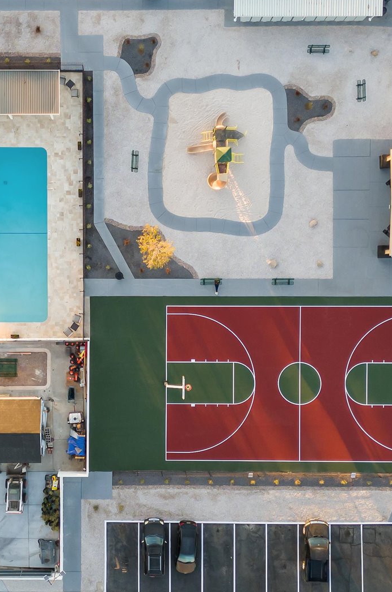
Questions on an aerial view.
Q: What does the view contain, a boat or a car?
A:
car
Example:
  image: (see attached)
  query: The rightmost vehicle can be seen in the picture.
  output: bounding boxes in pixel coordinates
[302,518,332,584]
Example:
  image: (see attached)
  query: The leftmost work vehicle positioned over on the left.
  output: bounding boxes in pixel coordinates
[3,465,28,515]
